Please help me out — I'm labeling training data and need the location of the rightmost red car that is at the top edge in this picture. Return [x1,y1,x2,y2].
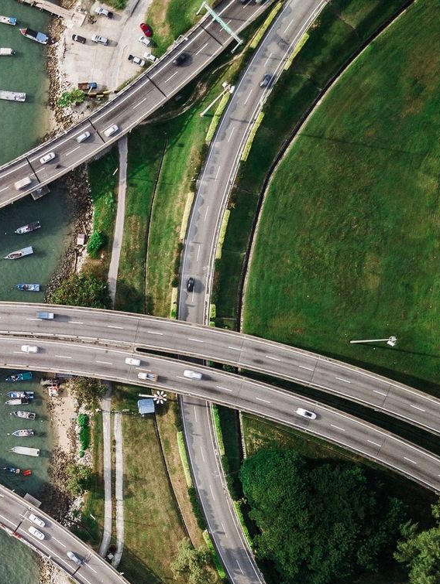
[140,21,153,36]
